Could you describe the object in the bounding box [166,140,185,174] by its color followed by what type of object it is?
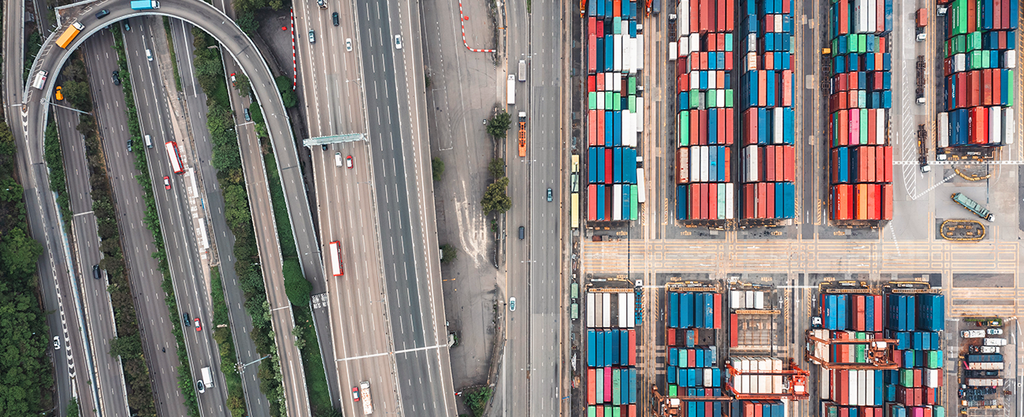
white vehicle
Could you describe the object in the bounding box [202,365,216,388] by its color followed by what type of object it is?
white vehicle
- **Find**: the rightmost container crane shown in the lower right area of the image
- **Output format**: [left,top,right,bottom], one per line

[807,331,903,368]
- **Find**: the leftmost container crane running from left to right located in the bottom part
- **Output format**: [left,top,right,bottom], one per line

[653,383,739,417]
